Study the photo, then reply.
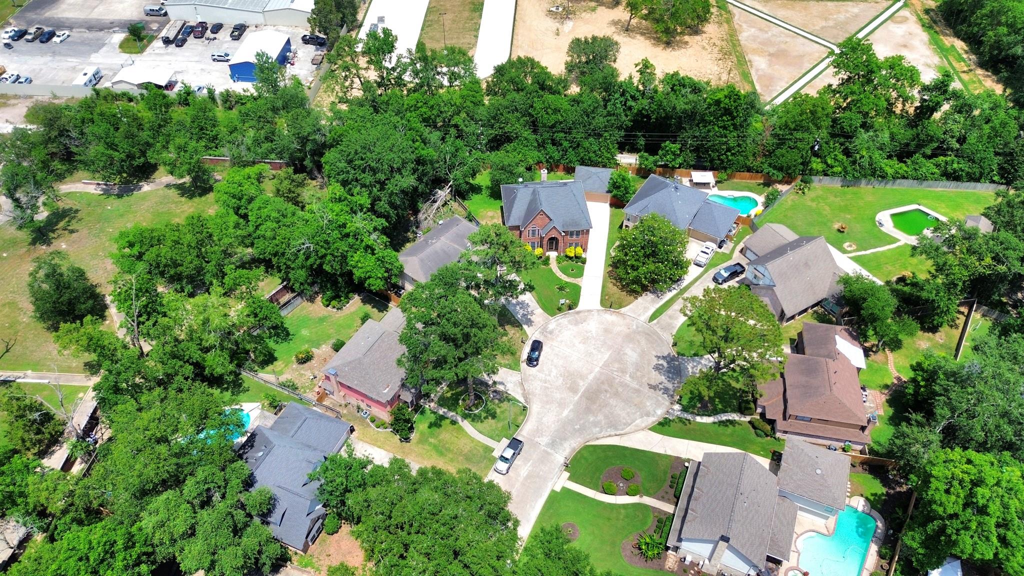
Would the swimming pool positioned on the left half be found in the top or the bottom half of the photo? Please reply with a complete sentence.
Seen from above, the swimming pool positioned on the left half lies in the bottom half of the view.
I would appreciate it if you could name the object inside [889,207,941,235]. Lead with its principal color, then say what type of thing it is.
green swimming pool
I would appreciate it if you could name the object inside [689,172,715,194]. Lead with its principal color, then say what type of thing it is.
white gazebo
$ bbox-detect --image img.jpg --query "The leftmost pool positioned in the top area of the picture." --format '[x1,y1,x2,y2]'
[705,193,759,215]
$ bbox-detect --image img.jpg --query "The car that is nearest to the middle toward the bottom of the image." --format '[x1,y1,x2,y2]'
[526,334,543,365]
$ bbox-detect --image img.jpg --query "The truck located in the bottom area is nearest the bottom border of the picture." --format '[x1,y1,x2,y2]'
[493,432,528,476]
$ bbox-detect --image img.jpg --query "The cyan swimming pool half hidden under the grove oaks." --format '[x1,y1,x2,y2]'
[190,406,251,448]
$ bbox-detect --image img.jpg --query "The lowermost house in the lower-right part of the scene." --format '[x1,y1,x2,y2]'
[665,439,851,576]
